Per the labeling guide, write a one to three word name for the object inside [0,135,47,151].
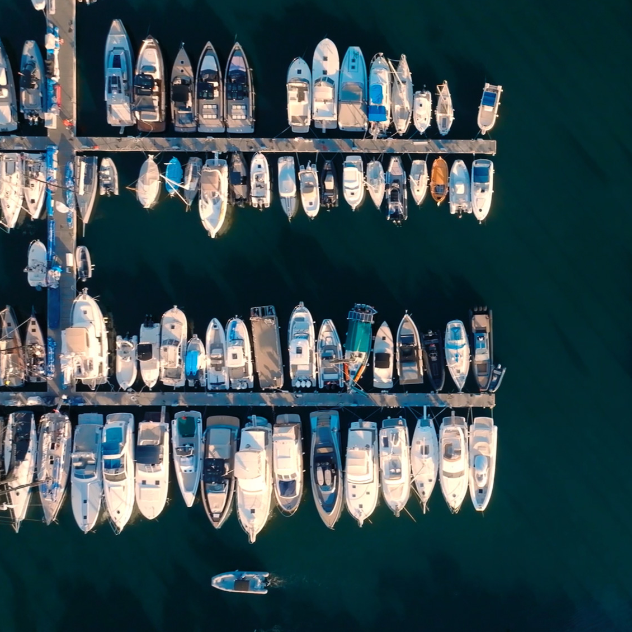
pier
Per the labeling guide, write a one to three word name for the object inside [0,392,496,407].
pier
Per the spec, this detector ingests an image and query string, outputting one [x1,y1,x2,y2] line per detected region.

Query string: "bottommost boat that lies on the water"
[208,572,270,594]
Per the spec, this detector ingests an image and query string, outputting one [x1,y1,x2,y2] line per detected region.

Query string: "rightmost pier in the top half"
[76,136,496,154]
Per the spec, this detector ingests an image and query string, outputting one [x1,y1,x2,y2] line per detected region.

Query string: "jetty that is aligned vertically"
[47,0,77,392]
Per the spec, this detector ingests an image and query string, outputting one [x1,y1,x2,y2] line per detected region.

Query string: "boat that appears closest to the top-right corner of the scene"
[474,81,503,139]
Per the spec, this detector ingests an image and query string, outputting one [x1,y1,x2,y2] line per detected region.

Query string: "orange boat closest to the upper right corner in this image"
[428,153,450,206]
